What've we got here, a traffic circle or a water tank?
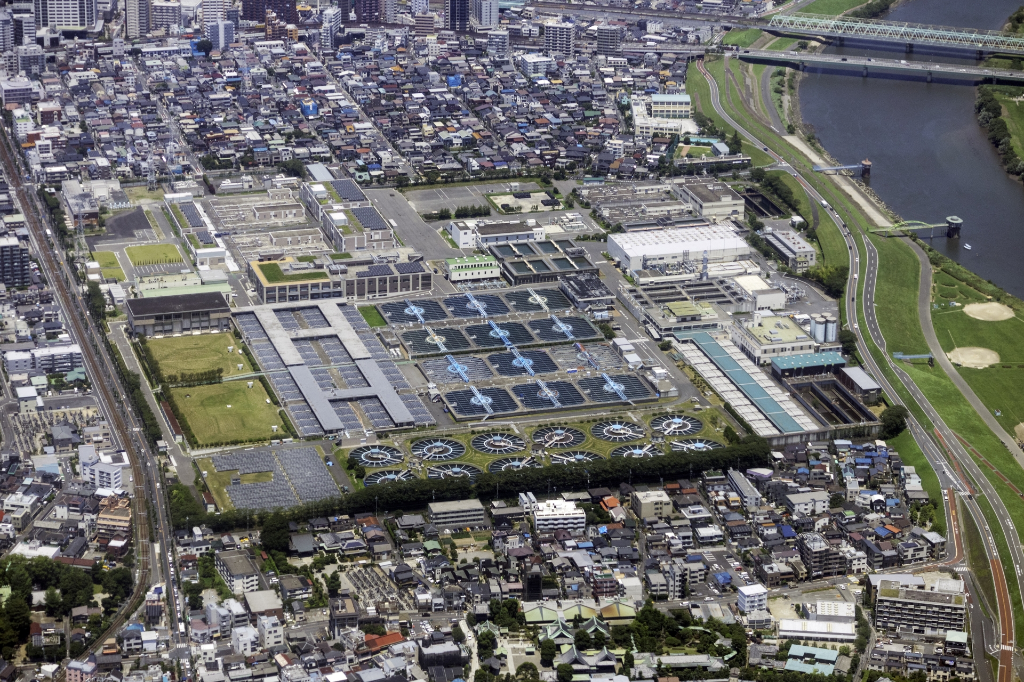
water tank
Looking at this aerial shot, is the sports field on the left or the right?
right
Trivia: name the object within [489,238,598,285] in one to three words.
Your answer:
water tank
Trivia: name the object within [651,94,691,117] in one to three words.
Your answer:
building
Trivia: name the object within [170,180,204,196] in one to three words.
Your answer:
shed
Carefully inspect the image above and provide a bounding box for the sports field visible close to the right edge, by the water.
[931,269,1024,450]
